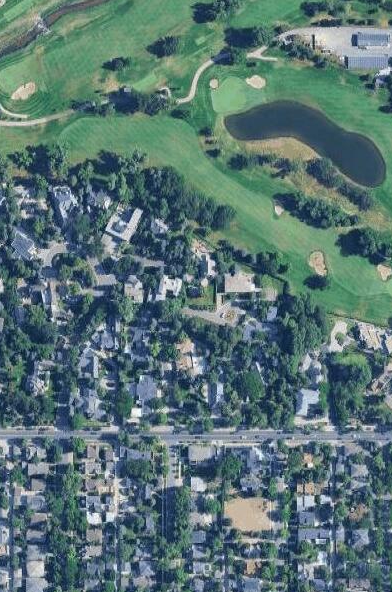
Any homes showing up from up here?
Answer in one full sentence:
Yes, the photo shows a home.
